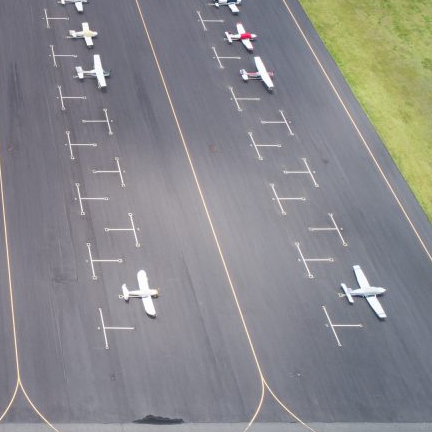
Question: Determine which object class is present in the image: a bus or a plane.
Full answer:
I can see a plane in this picture.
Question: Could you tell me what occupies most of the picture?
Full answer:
The bulk of the photo consists of paved ground.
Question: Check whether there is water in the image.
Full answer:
No, there is no water in the image.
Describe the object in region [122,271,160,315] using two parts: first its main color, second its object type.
white airplane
